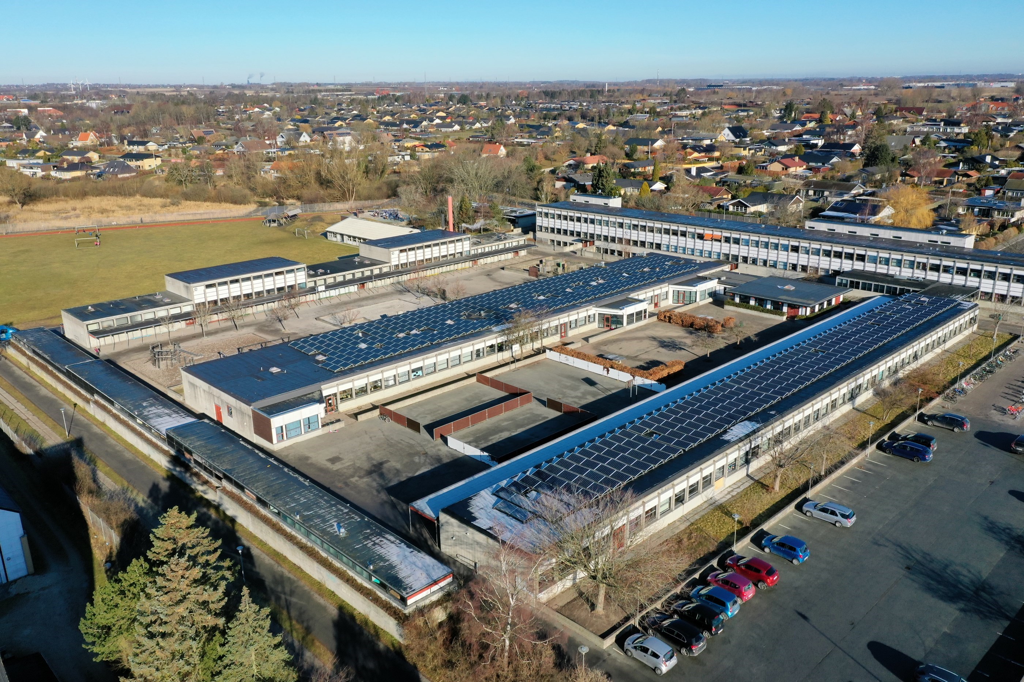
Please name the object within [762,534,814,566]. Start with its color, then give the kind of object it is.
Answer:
blue car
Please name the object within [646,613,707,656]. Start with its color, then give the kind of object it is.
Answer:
black car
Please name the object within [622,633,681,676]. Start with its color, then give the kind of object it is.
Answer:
gray car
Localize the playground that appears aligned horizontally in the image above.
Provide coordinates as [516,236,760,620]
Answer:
[125,334,282,395]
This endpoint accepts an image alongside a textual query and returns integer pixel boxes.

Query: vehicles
[646,613,707,656]
[622,633,681,676]
[923,412,973,434]
[801,499,860,529]
[707,568,760,602]
[892,430,942,454]
[726,553,784,589]
[882,439,935,464]
[762,534,814,566]
[1005,432,1024,455]
[688,581,747,620]
[668,595,732,638]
